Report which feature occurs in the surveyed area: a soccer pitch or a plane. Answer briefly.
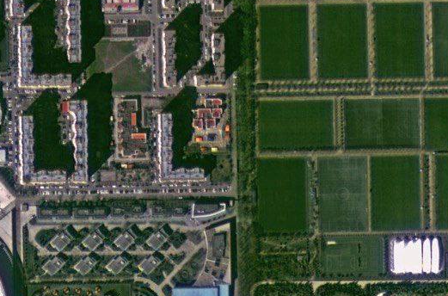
soccer pitch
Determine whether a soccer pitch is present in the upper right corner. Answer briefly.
Yes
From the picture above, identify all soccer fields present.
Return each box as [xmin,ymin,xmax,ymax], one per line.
[425,98,448,151]
[258,100,333,150]
[257,158,307,234]
[259,4,308,81]
[319,157,367,232]
[345,99,420,150]
[371,156,420,231]
[373,3,424,79]
[316,4,367,80]
[432,2,448,75]
[435,154,448,229]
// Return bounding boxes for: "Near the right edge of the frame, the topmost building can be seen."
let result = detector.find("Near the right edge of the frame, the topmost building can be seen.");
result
[389,237,444,277]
